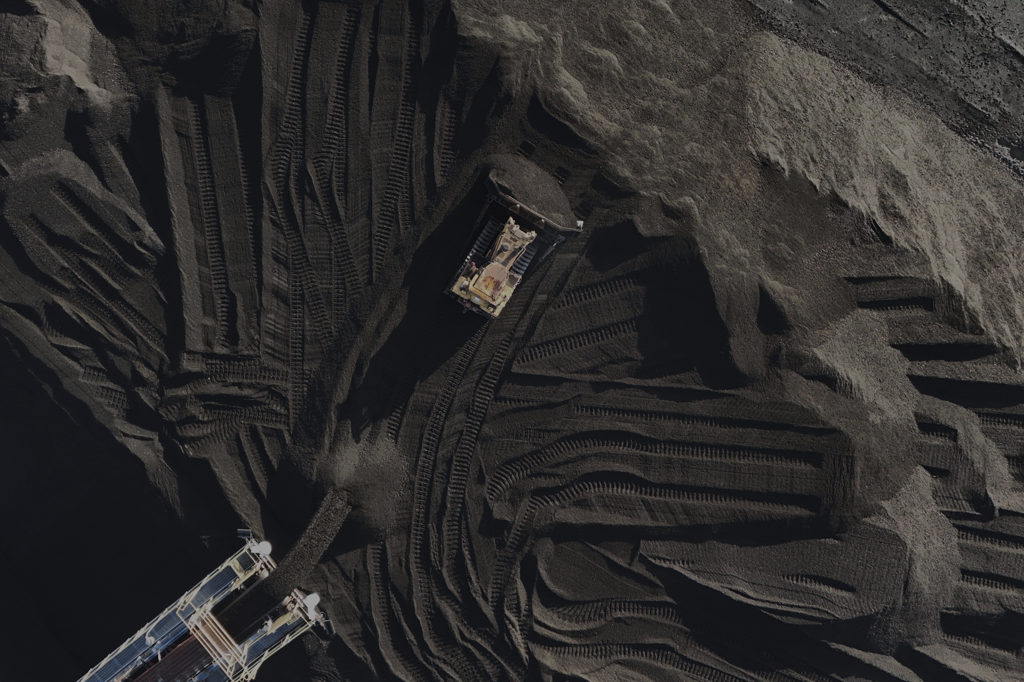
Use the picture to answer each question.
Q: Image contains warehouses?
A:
No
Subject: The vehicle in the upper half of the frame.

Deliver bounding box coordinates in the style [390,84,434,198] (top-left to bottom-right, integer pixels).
[446,169,589,323]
